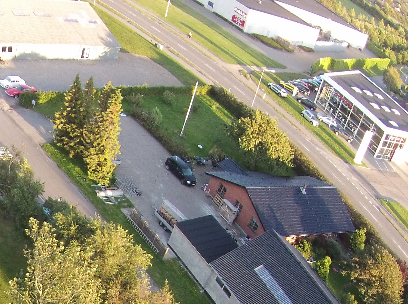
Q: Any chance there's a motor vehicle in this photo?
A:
Yes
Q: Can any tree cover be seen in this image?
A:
Yes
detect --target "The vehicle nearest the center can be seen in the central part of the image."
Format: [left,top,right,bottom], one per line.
[165,158,197,184]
